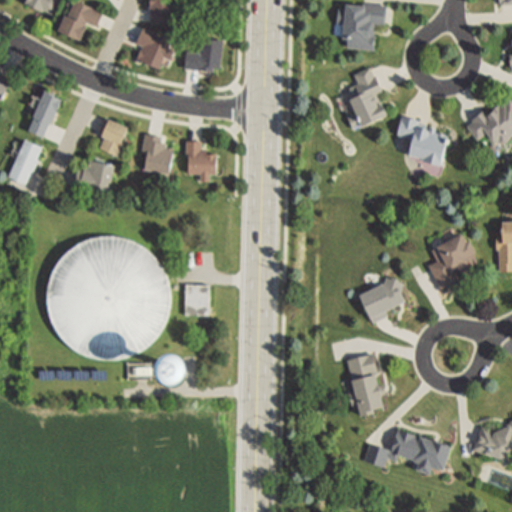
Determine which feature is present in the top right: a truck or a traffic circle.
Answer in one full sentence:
It is a traffic circle that can be seen in the top right.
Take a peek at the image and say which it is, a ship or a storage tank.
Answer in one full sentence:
I can see a storage tank in this picture.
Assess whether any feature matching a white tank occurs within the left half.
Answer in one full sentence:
Yes, you'll find a white tank within the left half.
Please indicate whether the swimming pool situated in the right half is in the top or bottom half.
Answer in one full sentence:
It is in the bottom half that the swimming pool situated in the right half appears.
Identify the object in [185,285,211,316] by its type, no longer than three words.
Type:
building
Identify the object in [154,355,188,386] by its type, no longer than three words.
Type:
water tower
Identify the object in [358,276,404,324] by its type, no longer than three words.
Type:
house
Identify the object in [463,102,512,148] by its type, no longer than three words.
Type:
house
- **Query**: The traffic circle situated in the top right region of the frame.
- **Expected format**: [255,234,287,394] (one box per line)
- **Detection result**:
[406,0,482,96]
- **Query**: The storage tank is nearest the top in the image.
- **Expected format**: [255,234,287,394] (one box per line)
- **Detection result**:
[46,236,171,361]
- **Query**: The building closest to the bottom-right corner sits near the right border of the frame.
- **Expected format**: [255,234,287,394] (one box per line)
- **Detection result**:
[470,420,512,462]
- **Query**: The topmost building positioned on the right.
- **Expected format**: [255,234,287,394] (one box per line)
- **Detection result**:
[342,3,385,52]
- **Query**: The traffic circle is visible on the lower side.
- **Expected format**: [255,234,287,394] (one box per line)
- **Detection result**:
[414,312,512,396]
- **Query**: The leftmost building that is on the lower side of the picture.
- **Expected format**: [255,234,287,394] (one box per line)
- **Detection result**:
[127,362,154,381]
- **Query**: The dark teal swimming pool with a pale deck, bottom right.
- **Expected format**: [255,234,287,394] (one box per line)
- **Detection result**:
[478,462,512,491]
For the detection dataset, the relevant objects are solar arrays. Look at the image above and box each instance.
[38,371,54,380]
[56,371,72,380]
[74,371,90,380]
[92,371,107,380]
